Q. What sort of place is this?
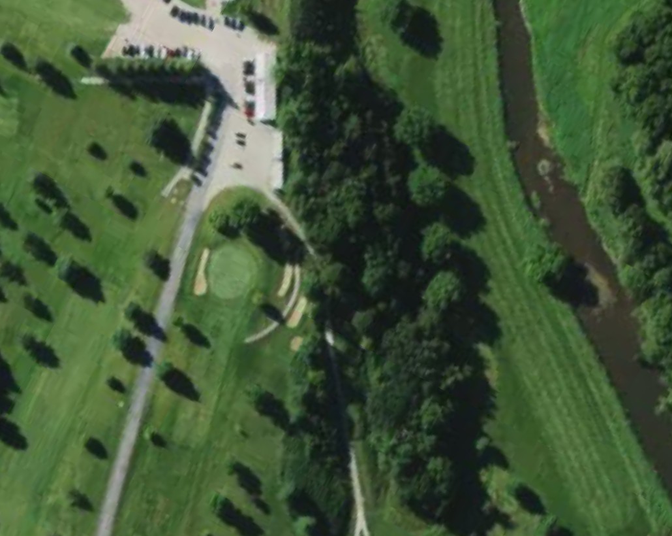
golf course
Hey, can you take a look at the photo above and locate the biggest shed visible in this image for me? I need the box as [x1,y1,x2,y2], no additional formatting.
[255,52,276,120]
